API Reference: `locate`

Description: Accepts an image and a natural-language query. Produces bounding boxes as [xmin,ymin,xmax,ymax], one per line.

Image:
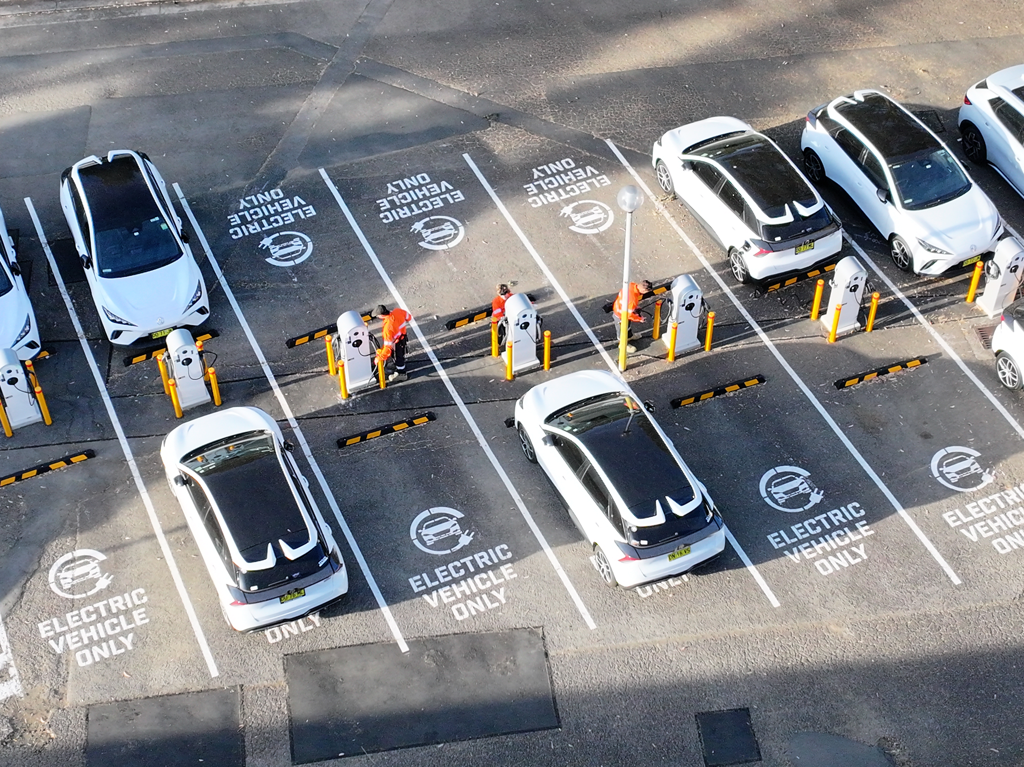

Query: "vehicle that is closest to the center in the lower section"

[518,369,724,592]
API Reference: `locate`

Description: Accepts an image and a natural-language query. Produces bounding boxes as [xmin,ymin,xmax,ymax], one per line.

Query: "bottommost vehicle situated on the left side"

[164,406,349,636]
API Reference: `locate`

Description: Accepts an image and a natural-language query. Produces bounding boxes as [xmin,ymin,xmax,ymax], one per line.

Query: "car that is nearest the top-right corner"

[964,68,1024,190]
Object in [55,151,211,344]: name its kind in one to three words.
car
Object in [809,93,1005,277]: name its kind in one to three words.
car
